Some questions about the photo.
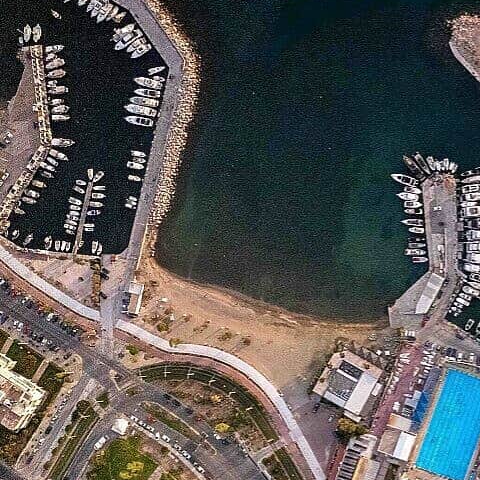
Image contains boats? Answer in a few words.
Yes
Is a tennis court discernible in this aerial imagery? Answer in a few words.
No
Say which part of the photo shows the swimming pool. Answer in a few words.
bottom right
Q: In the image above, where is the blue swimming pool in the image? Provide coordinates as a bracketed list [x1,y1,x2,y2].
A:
[400,360,480,480]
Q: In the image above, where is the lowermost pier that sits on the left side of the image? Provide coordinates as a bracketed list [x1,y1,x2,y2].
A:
[72,181,93,255]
